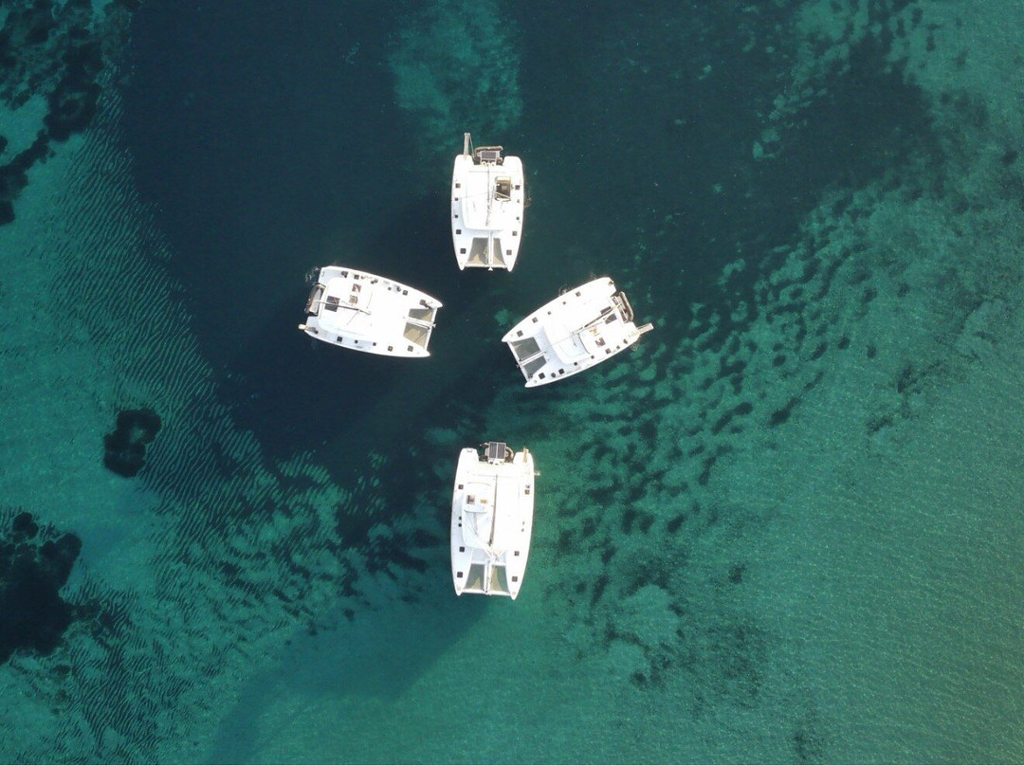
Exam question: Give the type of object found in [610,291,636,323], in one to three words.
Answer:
boat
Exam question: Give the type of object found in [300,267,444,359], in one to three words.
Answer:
boat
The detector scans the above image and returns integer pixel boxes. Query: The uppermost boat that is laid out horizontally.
[474,149,506,164]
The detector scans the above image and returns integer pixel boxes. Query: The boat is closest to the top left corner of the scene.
[306,283,326,315]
